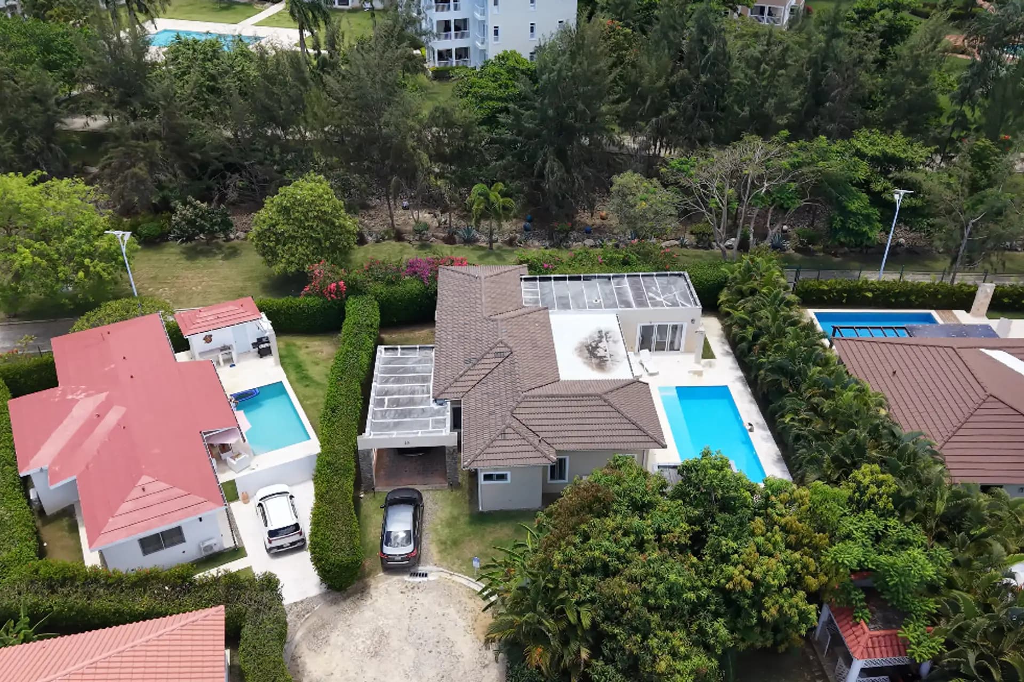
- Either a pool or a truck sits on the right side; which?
pool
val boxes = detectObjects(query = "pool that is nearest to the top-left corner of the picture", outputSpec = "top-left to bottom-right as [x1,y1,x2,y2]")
[150,28,271,54]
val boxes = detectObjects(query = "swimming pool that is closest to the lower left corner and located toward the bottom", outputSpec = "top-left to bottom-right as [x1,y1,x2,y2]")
[235,382,310,456]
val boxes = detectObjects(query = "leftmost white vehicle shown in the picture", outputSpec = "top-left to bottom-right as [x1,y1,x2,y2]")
[255,488,306,566]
